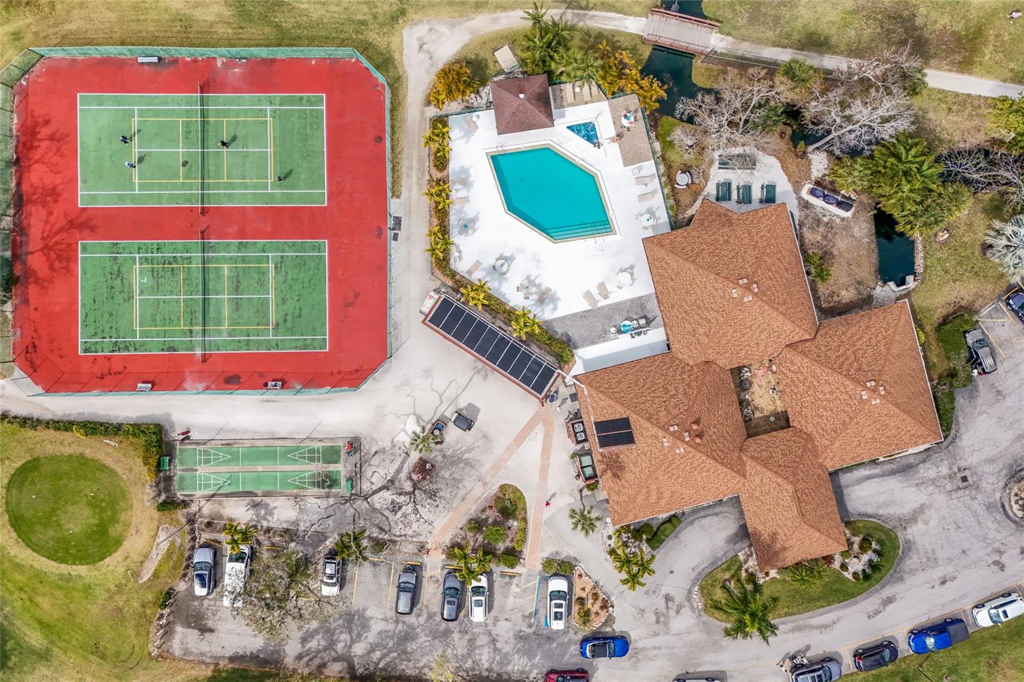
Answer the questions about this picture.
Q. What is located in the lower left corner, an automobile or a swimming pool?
automobile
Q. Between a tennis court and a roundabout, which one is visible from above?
tennis court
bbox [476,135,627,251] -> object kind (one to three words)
swimming pool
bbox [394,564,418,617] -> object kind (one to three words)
car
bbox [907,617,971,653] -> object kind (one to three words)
truck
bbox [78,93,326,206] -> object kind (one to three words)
tennis court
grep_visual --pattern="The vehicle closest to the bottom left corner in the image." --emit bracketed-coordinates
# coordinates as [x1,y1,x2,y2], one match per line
[191,545,218,598]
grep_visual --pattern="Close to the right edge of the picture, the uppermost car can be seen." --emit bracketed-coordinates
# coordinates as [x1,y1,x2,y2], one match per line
[996,283,1024,331]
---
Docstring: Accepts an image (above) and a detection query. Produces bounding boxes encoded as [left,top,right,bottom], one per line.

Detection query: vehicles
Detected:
[546,575,570,631]
[439,569,463,622]
[961,326,1000,376]
[318,551,342,596]
[850,637,897,670]
[786,654,840,682]
[394,564,418,617]
[222,544,253,608]
[907,617,971,653]
[579,633,628,660]
[971,591,1024,627]
[449,410,475,434]
[467,572,490,623]
[191,545,218,598]
[996,283,1024,331]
